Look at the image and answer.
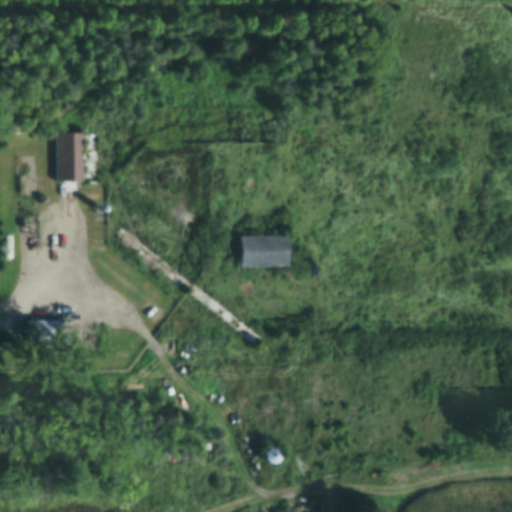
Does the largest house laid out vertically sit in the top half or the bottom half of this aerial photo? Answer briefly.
top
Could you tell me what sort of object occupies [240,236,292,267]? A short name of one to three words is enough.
barn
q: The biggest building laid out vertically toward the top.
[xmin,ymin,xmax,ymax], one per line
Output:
[56,132,84,194]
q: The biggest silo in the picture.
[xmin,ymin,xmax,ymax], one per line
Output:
[262,448,284,466]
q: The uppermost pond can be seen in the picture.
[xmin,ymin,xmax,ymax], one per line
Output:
[441,388,512,452]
